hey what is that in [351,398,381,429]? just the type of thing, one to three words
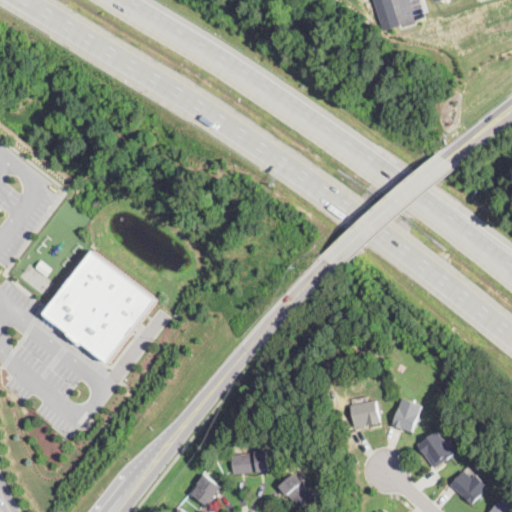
house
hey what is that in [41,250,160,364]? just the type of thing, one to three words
building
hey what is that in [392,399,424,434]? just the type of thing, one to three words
house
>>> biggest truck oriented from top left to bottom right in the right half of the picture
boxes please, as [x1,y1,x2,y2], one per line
[322,199,350,221]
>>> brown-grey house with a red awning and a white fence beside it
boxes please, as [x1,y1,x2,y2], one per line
[190,476,220,512]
